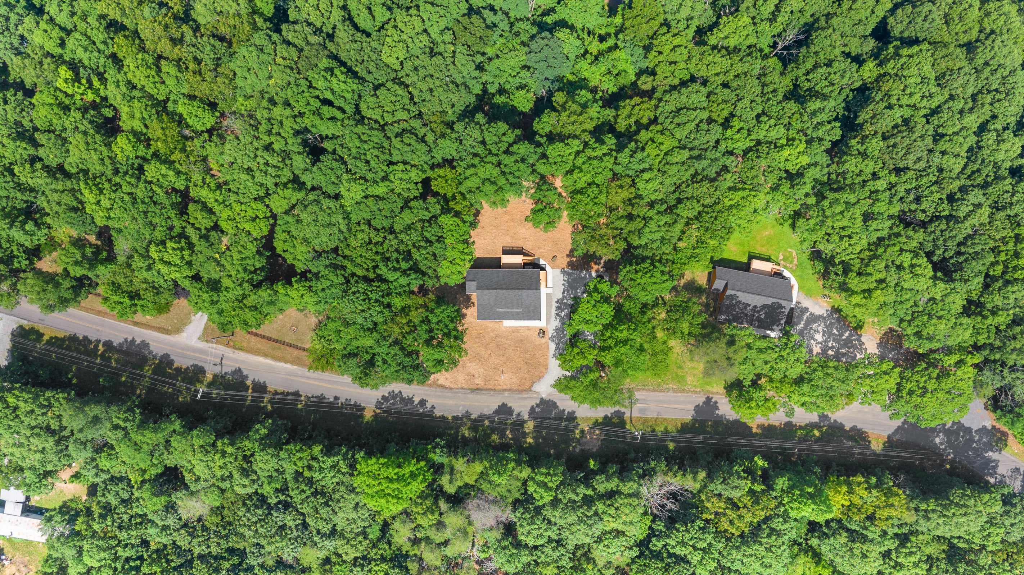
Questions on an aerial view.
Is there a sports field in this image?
No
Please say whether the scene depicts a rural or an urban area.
rural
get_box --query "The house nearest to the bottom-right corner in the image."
[708,258,792,331]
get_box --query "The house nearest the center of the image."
[465,254,547,321]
